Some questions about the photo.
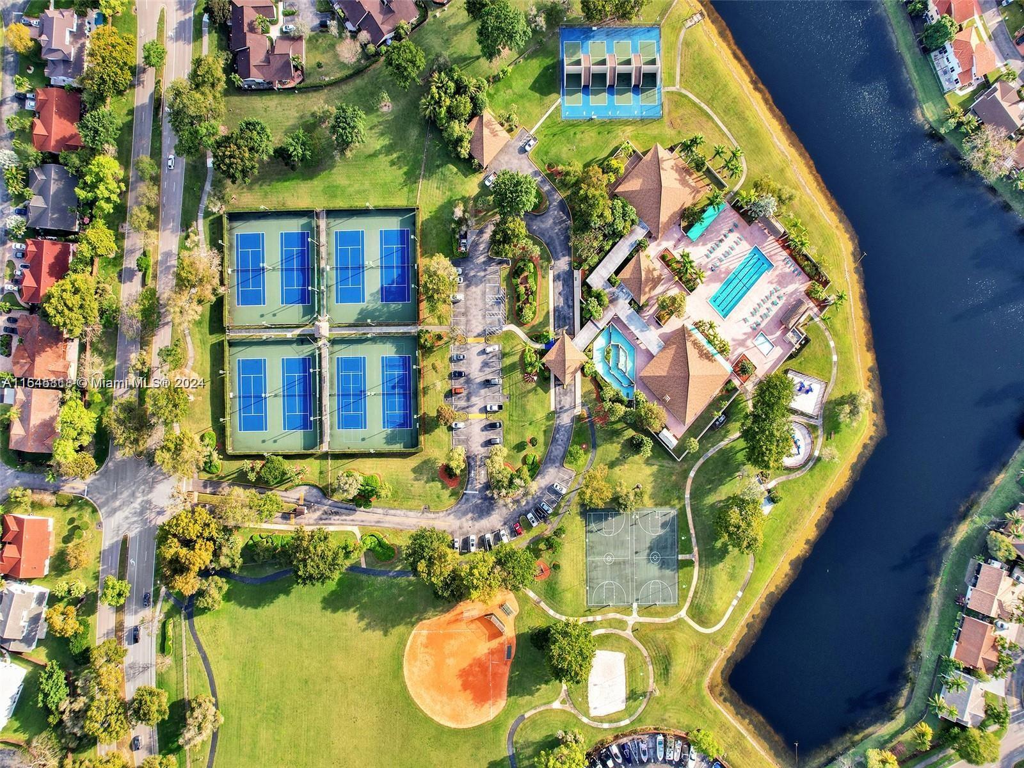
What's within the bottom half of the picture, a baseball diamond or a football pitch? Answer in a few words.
baseball diamond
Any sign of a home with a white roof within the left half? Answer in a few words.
Yes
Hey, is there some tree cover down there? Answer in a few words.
Yes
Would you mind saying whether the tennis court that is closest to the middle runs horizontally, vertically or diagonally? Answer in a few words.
vertically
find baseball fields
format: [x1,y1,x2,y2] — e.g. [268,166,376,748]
[403,590,519,728]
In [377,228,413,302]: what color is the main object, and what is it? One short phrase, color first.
blue tennis court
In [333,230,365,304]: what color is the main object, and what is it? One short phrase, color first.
blue tennis court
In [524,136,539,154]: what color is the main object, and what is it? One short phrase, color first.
white vehicle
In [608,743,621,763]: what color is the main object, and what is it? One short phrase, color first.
white boat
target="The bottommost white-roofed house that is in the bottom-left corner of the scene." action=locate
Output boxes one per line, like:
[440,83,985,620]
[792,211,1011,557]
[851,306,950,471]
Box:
[0,649,36,735]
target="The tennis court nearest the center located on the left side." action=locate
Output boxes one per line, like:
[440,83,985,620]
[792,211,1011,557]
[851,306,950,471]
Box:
[381,348,415,440]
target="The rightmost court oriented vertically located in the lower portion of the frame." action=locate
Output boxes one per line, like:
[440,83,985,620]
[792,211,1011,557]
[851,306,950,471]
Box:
[634,511,677,604]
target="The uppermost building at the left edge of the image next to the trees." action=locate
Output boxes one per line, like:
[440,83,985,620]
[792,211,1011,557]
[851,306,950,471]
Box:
[31,8,89,80]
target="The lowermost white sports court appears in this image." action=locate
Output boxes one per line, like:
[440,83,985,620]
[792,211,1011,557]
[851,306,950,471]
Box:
[588,650,627,717]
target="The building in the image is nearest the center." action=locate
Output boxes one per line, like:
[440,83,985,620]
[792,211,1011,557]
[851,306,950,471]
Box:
[543,333,588,385]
